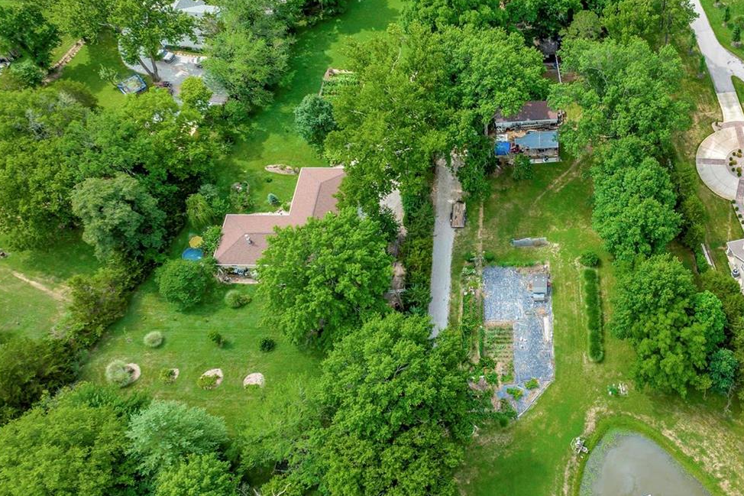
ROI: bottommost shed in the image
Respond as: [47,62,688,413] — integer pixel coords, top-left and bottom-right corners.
[531,276,548,302]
